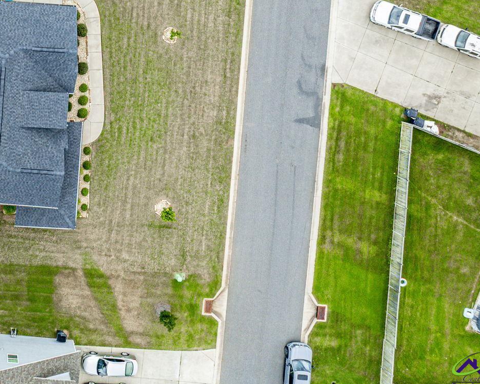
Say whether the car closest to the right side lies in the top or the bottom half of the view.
top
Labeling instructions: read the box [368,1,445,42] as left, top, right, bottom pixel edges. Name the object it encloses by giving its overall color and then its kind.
white truck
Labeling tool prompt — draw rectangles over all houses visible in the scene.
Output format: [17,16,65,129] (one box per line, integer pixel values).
[0,0,84,231]
[0,335,81,384]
